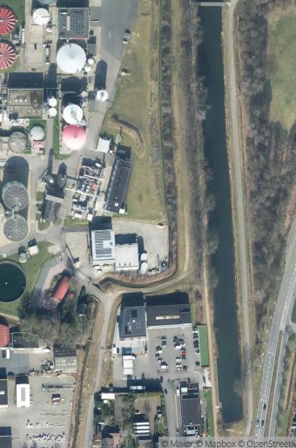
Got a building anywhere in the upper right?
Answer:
No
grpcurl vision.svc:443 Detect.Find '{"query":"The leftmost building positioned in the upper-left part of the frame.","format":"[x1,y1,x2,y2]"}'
[9,90,42,119]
